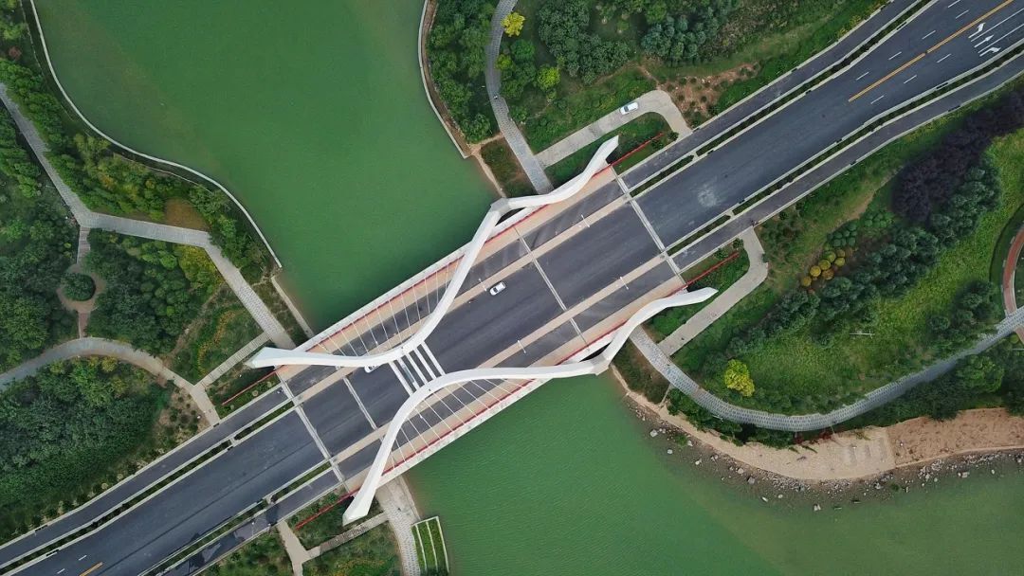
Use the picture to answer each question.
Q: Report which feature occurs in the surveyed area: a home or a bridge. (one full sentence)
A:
I can see a bridge in this picture.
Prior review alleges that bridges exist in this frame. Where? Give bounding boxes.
[220,131,739,529]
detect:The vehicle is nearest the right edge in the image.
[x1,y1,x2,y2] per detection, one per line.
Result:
[620,101,638,113]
